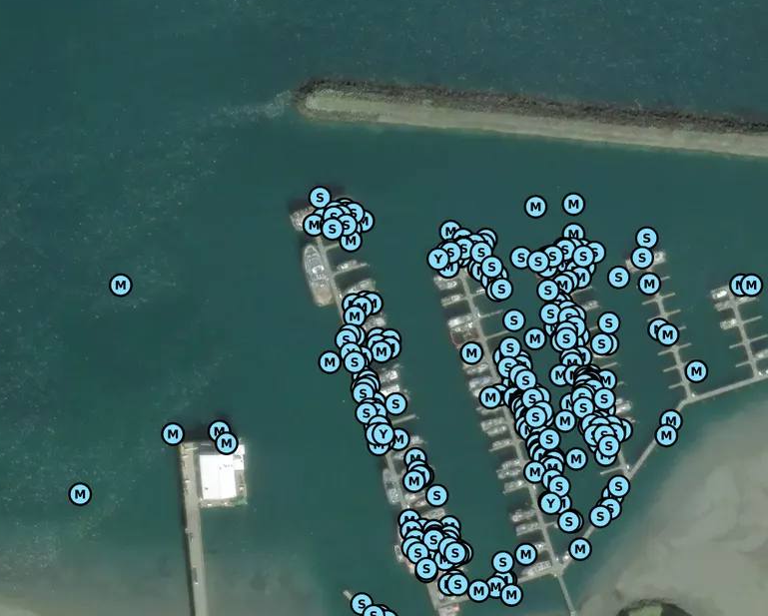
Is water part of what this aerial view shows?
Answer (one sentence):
Yes, water shows up in the scene.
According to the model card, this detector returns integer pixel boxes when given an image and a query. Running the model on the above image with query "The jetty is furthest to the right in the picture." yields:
[709,288,768,379]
